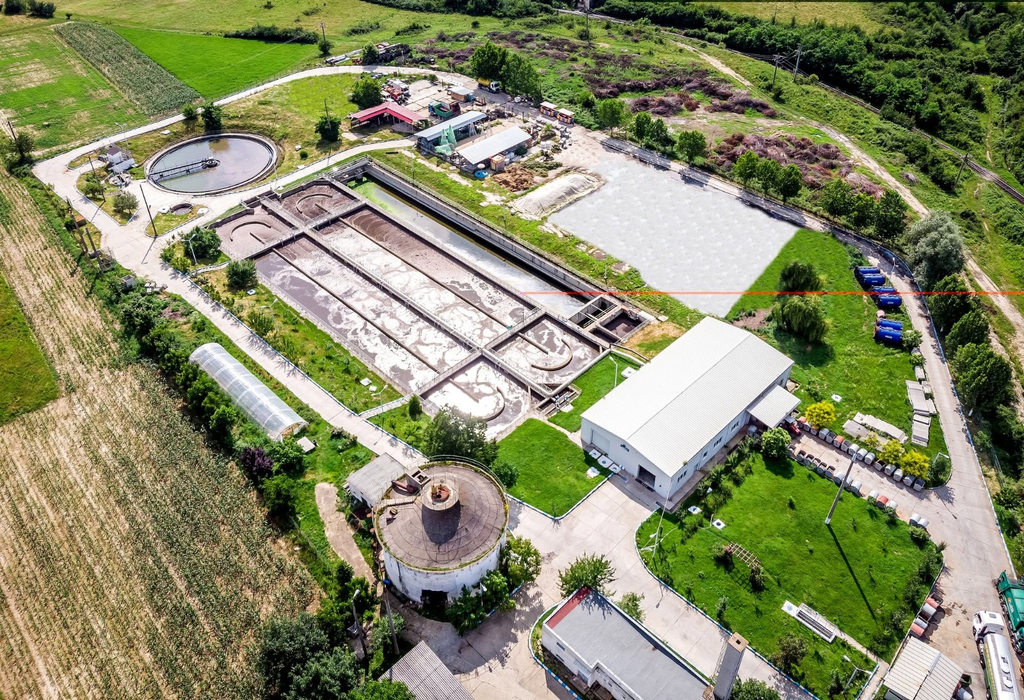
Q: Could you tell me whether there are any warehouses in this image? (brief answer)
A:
Yes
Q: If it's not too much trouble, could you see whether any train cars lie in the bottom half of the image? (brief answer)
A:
No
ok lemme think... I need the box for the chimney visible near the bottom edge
[709,633,751,700]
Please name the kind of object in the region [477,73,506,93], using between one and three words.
vehicle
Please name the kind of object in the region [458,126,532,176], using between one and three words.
shed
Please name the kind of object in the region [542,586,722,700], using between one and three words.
building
